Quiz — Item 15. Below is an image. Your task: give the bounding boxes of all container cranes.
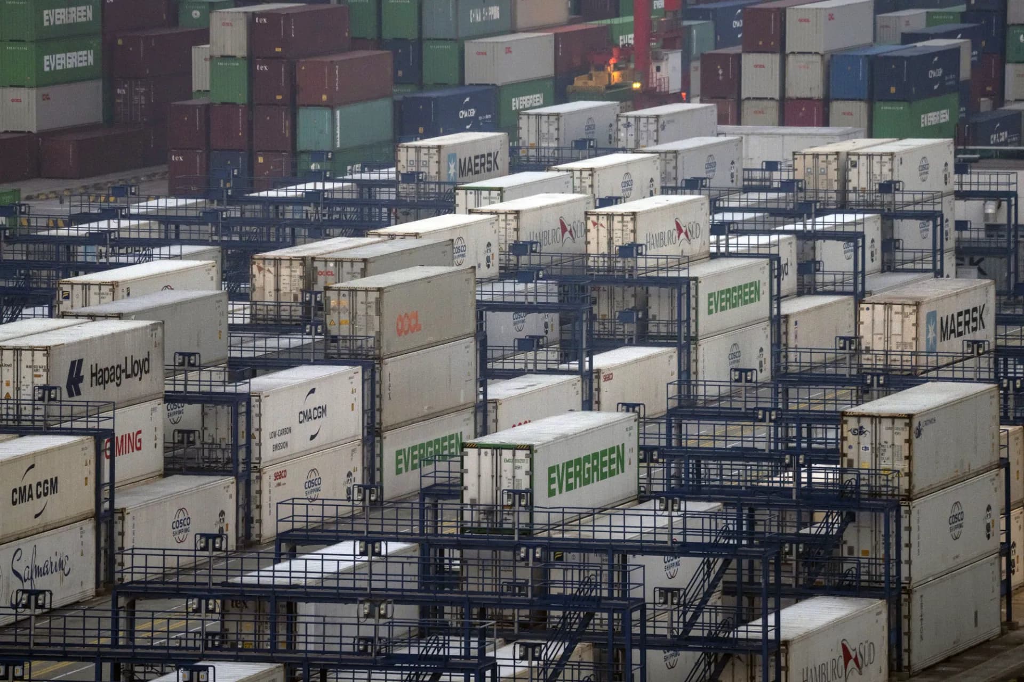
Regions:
[570,0,706,110]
